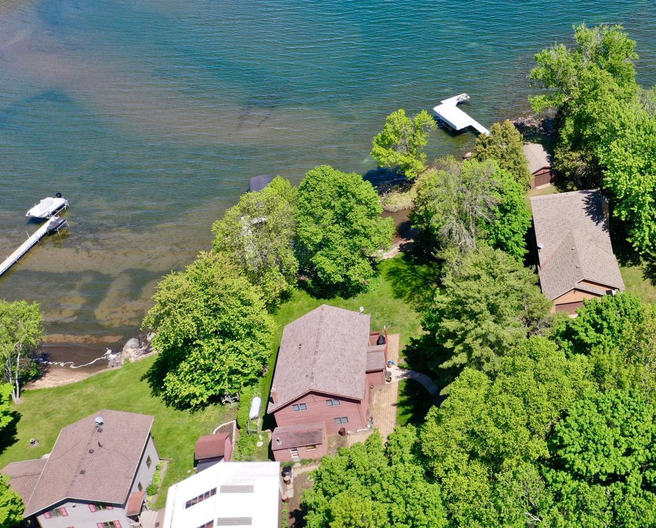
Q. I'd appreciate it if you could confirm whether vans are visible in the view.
No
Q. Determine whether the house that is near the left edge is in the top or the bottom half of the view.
bottom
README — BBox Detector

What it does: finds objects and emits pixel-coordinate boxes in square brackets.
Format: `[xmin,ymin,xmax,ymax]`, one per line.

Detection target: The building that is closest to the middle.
[266,304,389,433]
